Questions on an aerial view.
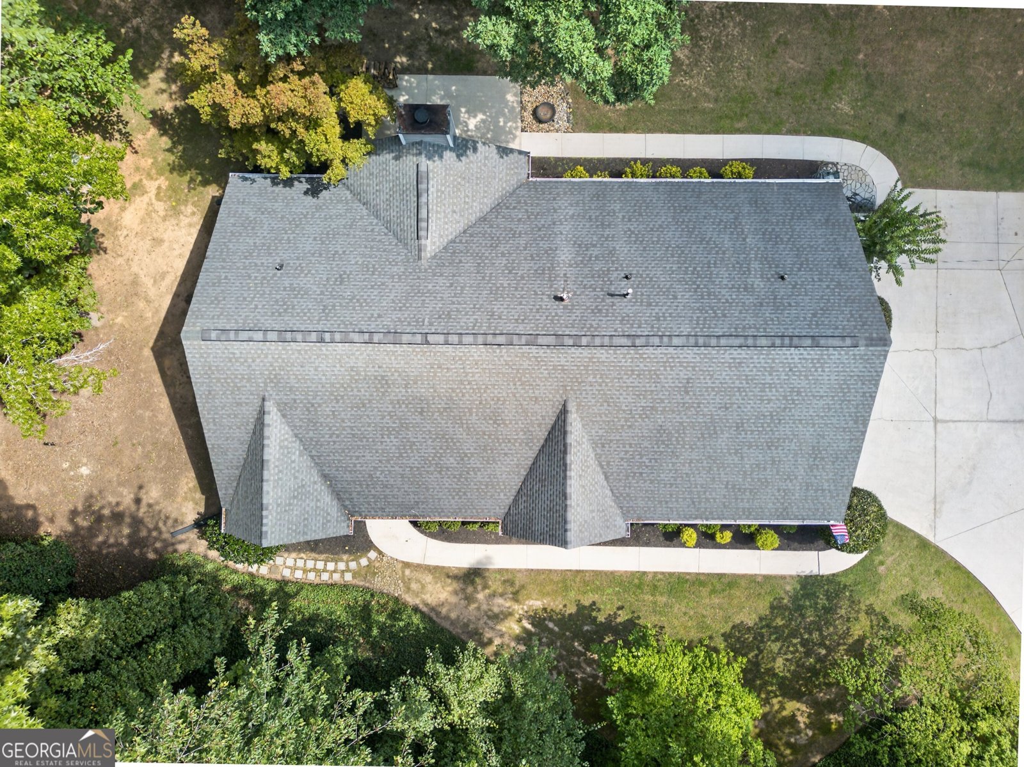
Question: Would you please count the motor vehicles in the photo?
0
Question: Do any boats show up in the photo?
No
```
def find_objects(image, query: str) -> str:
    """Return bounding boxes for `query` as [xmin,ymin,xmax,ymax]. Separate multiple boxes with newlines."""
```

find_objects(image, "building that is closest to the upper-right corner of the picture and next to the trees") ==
[181,103,891,549]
